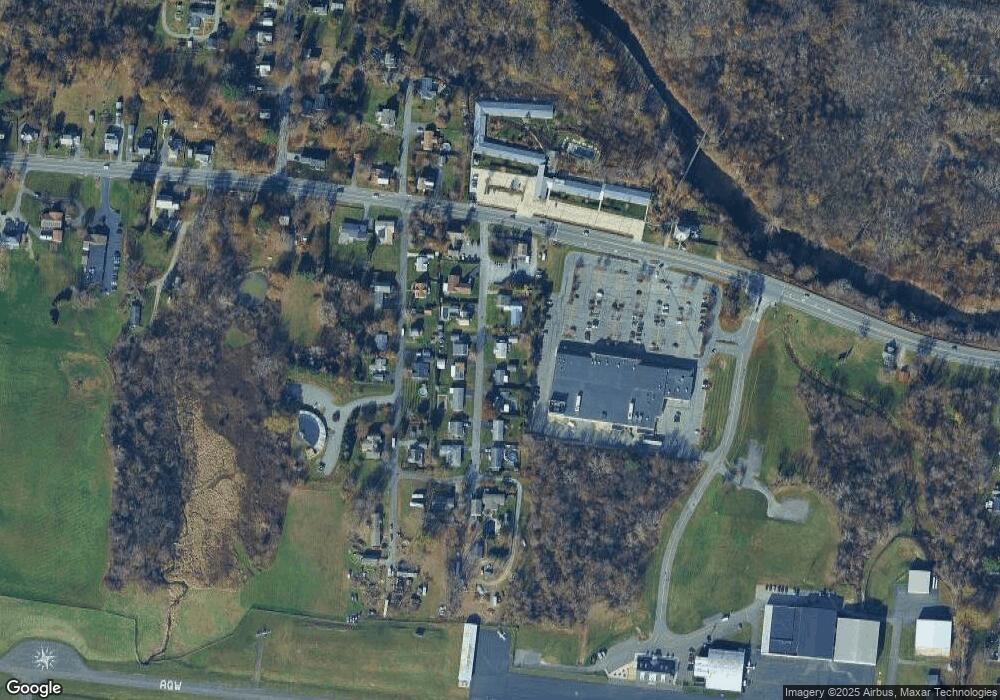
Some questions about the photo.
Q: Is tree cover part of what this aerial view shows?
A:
Yes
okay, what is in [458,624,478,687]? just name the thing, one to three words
hangar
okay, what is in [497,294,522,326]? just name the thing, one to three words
house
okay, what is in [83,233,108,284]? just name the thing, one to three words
building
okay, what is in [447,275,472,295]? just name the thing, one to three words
house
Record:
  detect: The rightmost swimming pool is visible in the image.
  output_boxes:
[571,144,595,159]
